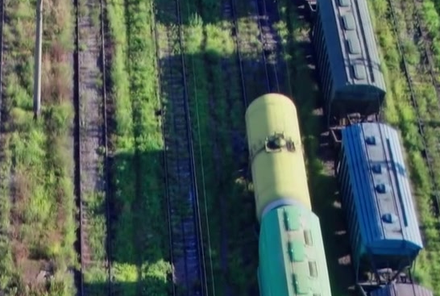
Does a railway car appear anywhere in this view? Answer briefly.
Yes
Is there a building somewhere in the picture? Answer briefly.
No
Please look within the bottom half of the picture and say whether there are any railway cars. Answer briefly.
Yes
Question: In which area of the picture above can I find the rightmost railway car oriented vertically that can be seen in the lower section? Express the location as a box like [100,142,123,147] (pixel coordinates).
[335,122,422,296]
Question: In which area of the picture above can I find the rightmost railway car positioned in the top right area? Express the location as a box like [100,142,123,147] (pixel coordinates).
[312,0,389,158]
